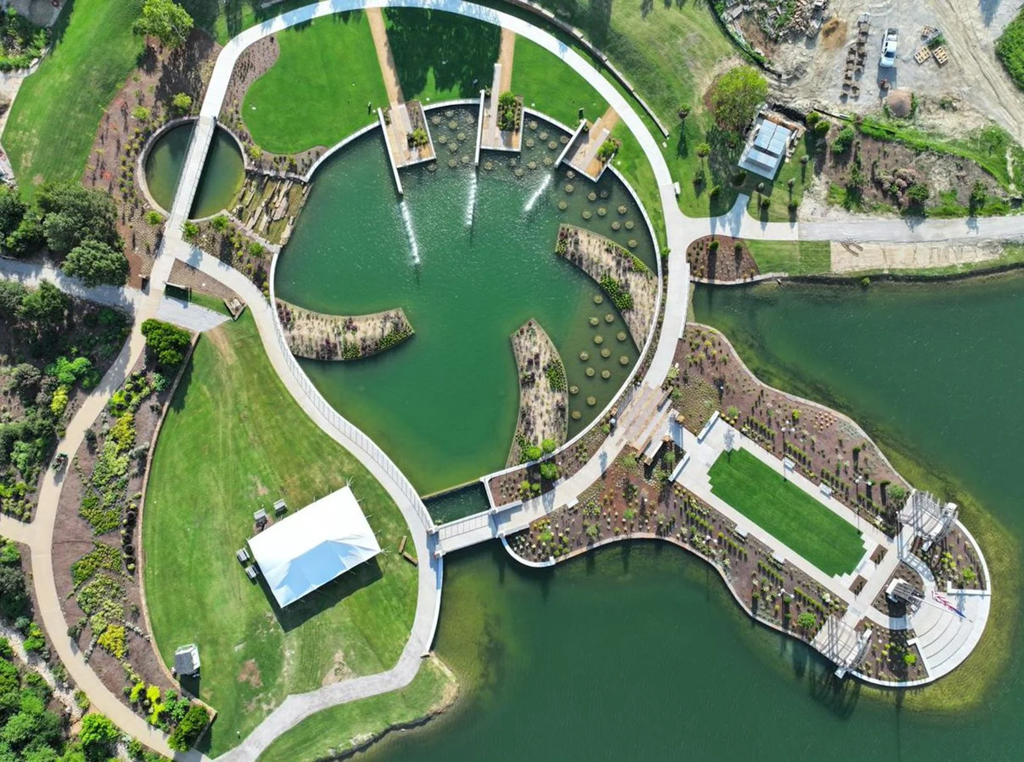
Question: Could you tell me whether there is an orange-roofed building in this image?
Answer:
No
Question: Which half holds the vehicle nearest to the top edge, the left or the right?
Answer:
right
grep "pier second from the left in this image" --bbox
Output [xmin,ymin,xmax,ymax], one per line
[476,63,525,169]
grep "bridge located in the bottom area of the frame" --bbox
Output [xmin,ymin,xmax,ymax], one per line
[427,500,529,559]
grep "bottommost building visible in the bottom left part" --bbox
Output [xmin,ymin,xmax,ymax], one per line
[175,641,207,676]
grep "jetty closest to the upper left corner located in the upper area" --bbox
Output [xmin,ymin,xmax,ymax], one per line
[379,101,437,198]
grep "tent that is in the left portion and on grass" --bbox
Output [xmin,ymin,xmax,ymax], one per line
[245,480,392,607]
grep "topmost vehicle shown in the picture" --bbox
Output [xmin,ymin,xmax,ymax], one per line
[878,27,898,68]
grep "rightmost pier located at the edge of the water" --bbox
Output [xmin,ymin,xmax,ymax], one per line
[554,119,619,184]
